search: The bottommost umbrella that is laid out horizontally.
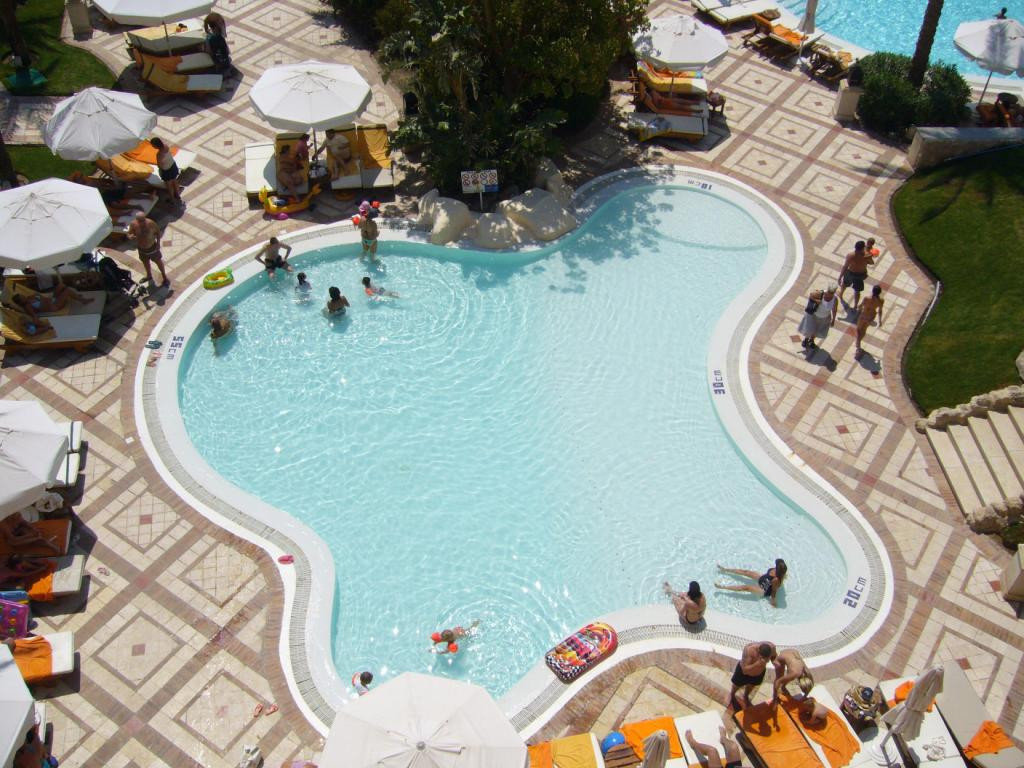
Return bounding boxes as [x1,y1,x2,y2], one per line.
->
[317,666,527,768]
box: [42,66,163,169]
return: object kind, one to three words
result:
umbrella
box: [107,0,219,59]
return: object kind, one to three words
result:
umbrella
